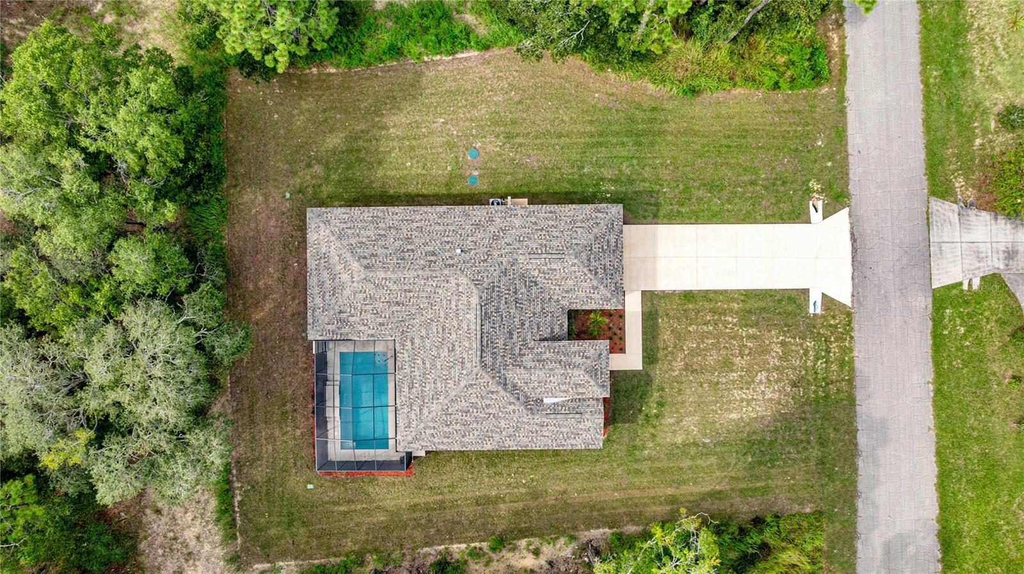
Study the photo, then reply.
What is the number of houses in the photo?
one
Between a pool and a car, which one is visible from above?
pool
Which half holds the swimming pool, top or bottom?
bottom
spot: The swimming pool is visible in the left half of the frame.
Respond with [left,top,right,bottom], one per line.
[336,349,391,453]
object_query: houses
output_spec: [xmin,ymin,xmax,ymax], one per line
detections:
[306,204,624,450]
